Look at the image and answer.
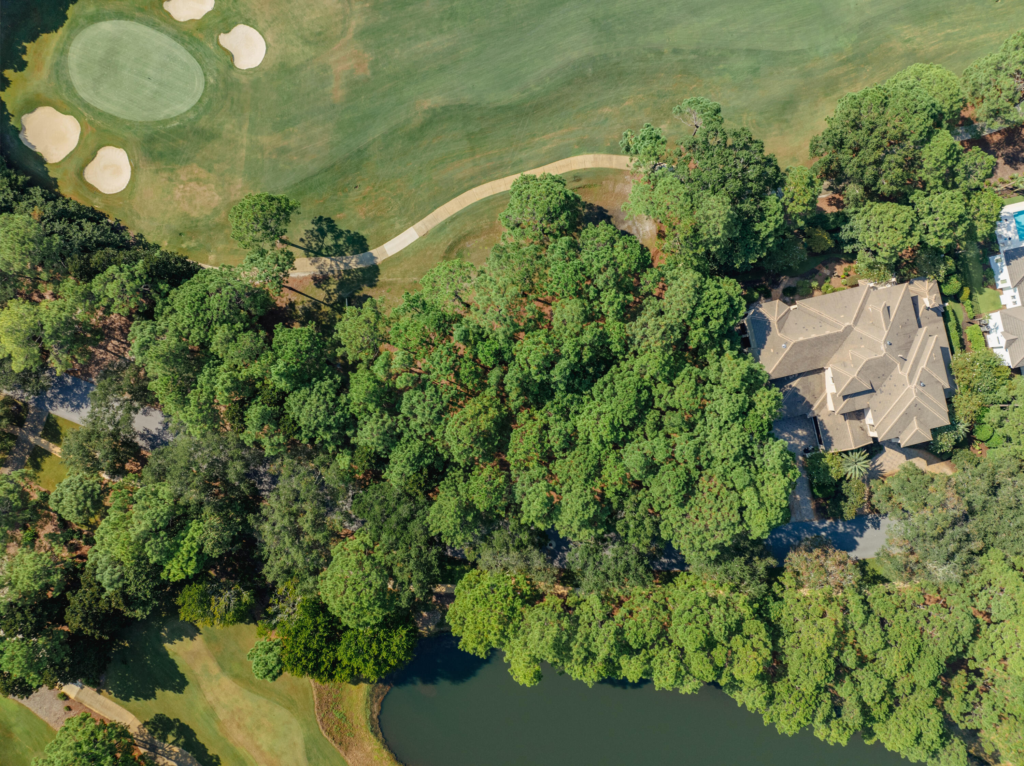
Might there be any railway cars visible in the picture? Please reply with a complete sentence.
No, no railway car is visible in the view.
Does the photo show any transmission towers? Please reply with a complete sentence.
No, there isn't any transmission tower down there.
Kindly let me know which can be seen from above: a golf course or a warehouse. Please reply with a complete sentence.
Of the two, only a golf course appears.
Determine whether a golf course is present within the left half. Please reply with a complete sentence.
Yes, the scene does show a golf course within the left half.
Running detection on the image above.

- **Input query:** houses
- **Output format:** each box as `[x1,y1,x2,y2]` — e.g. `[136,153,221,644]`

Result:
[737,277,958,454]
[981,246,1024,368]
